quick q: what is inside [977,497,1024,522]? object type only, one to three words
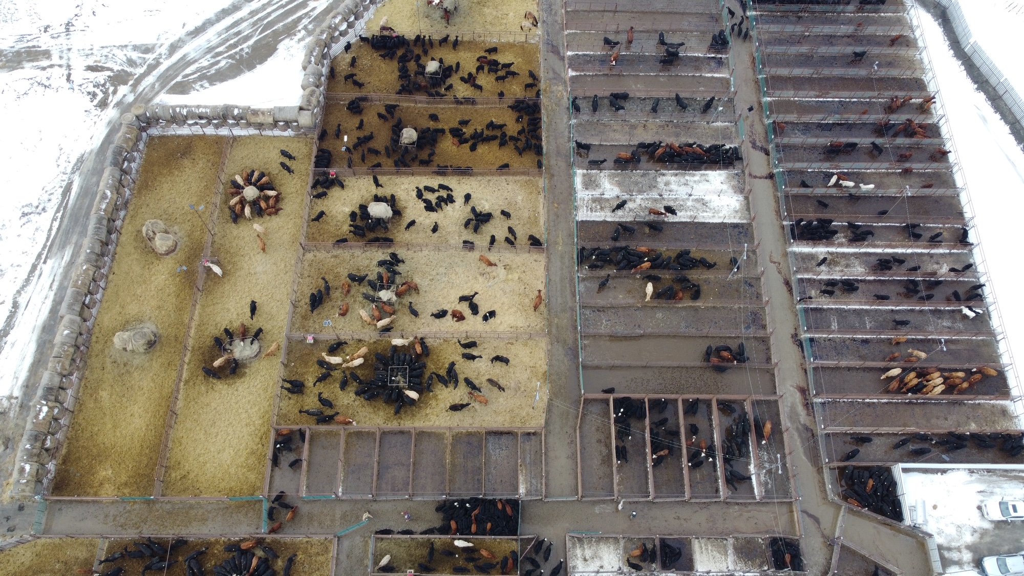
car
